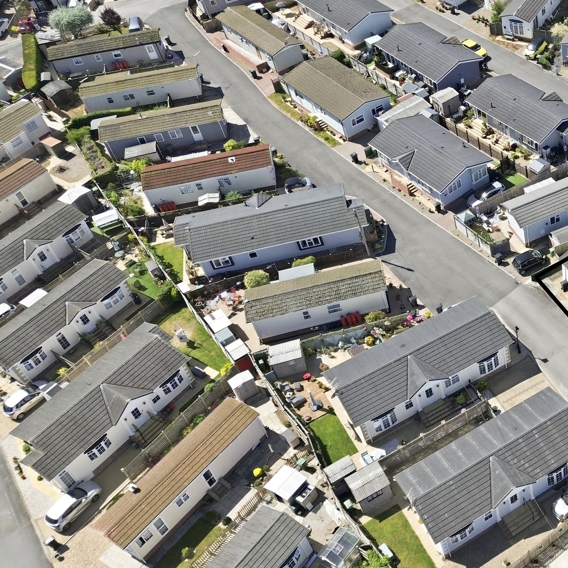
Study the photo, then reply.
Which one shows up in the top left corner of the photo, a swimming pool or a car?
car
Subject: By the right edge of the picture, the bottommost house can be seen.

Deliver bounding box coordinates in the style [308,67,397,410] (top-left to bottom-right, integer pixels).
[393,387,568,556]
